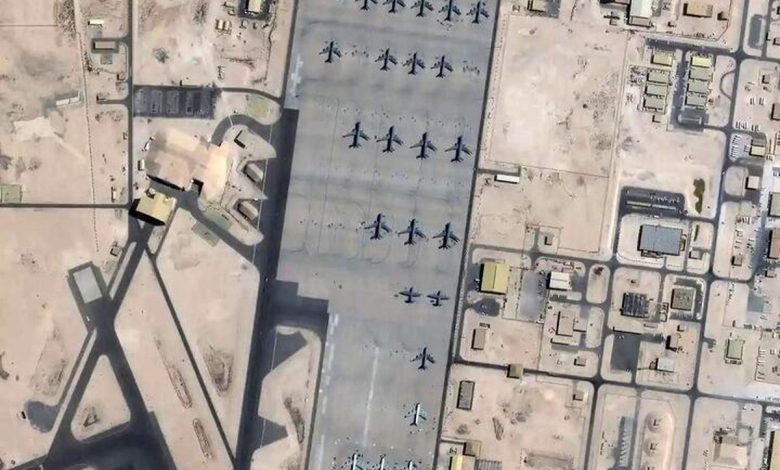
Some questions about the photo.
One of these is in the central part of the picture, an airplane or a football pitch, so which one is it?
airplane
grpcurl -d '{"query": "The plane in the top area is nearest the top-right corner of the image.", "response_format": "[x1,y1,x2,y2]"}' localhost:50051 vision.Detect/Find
[466,1,488,24]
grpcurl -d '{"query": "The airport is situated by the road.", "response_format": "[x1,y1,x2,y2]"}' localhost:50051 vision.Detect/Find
[5,0,495,470]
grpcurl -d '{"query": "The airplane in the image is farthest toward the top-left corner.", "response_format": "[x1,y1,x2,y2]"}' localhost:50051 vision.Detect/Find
[320,41,340,62]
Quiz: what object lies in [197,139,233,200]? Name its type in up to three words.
hangar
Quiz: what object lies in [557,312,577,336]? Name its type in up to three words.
building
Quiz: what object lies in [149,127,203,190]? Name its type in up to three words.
hangar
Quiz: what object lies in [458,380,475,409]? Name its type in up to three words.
building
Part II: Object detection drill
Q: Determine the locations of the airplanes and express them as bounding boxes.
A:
[398,219,423,245]
[431,56,452,77]
[445,136,470,162]
[403,53,424,74]
[411,133,436,159]
[384,0,405,13]
[405,403,427,426]
[400,287,420,302]
[433,222,458,249]
[411,0,432,16]
[428,291,449,306]
[344,121,369,149]
[371,457,388,470]
[412,347,434,369]
[365,213,390,240]
[438,0,459,21]
[376,49,396,70]
[320,41,340,62]
[342,452,364,470]
[404,460,415,470]
[377,126,403,153]
[466,1,488,24]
